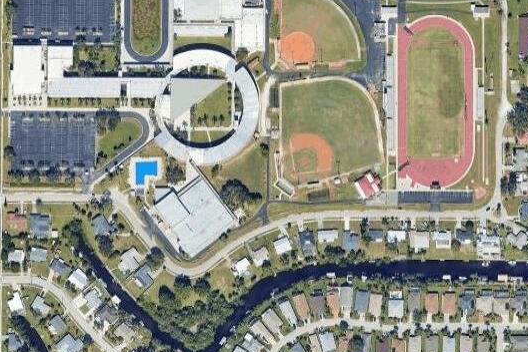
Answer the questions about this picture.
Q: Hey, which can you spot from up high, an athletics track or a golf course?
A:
athletics track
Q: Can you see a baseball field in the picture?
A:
Yes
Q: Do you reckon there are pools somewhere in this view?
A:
Yes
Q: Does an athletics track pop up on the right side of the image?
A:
Yes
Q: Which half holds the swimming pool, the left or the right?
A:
left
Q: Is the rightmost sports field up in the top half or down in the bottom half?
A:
top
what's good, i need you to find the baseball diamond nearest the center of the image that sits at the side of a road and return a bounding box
[280,77,383,187]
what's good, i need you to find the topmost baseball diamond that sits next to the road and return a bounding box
[280,0,360,70]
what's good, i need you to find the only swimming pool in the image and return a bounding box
[131,157,161,188]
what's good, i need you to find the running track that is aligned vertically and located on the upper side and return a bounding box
[395,14,475,189]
